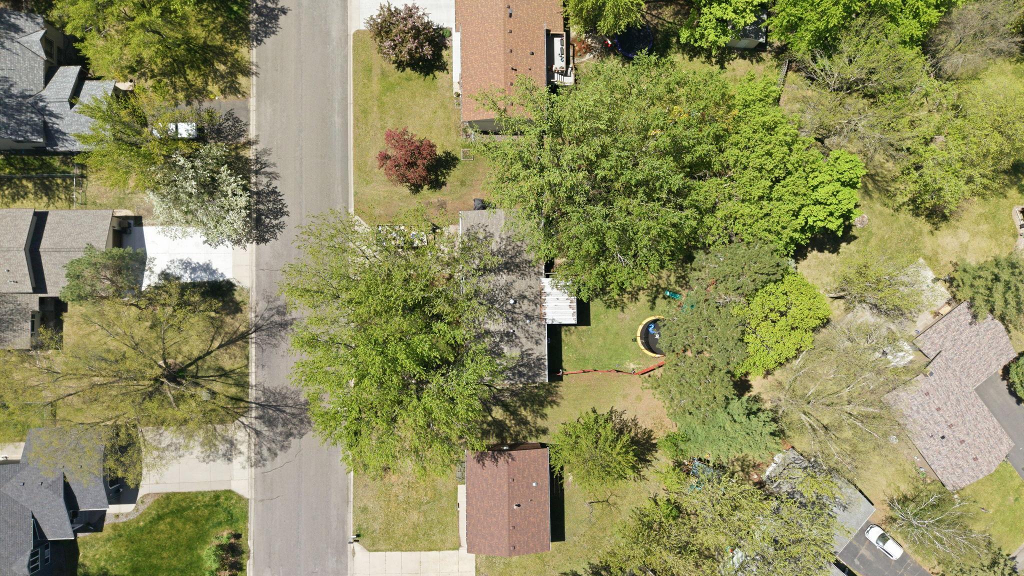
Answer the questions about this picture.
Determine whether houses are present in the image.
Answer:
Yes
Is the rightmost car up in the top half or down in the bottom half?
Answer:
bottom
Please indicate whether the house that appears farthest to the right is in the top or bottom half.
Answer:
bottom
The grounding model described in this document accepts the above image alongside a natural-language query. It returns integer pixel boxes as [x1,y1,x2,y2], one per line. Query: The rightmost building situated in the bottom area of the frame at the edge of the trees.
[879,298,1015,492]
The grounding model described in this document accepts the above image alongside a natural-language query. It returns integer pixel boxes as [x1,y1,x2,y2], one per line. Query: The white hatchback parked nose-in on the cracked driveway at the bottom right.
[865,522,910,565]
